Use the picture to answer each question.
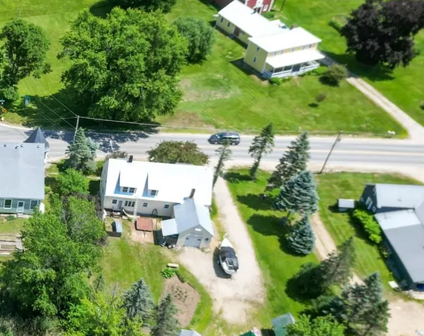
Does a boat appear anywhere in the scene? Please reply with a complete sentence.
Yes, a boat appears in the view.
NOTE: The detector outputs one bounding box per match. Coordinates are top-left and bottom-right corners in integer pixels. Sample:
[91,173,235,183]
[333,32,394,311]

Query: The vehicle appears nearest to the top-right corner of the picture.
[208,130,243,146]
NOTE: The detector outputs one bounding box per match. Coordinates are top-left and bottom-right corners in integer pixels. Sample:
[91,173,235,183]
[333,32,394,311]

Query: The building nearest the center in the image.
[102,147,218,248]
